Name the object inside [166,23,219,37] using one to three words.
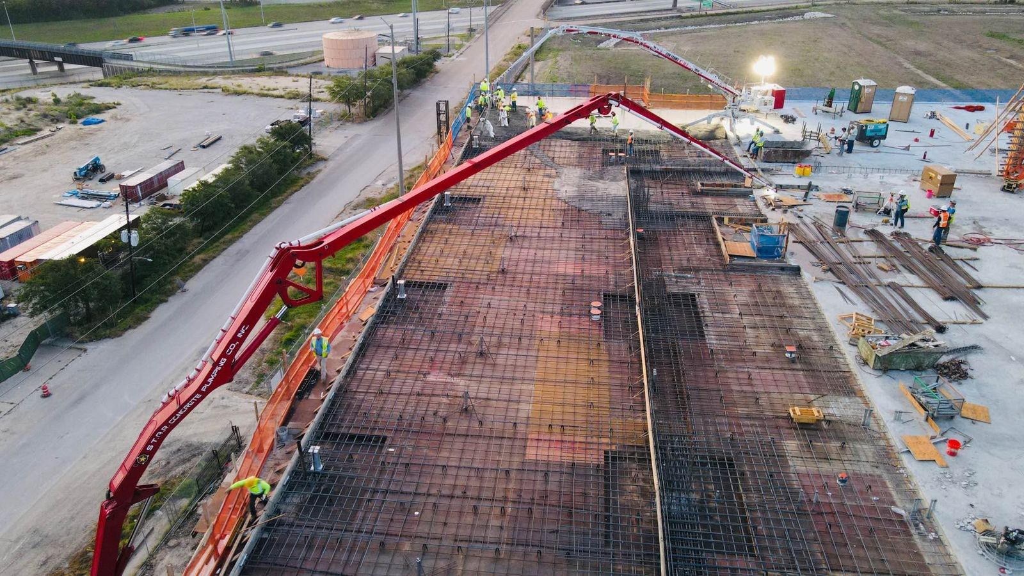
vehicle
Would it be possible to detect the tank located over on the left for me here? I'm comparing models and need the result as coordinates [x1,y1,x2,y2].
[323,28,376,68]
